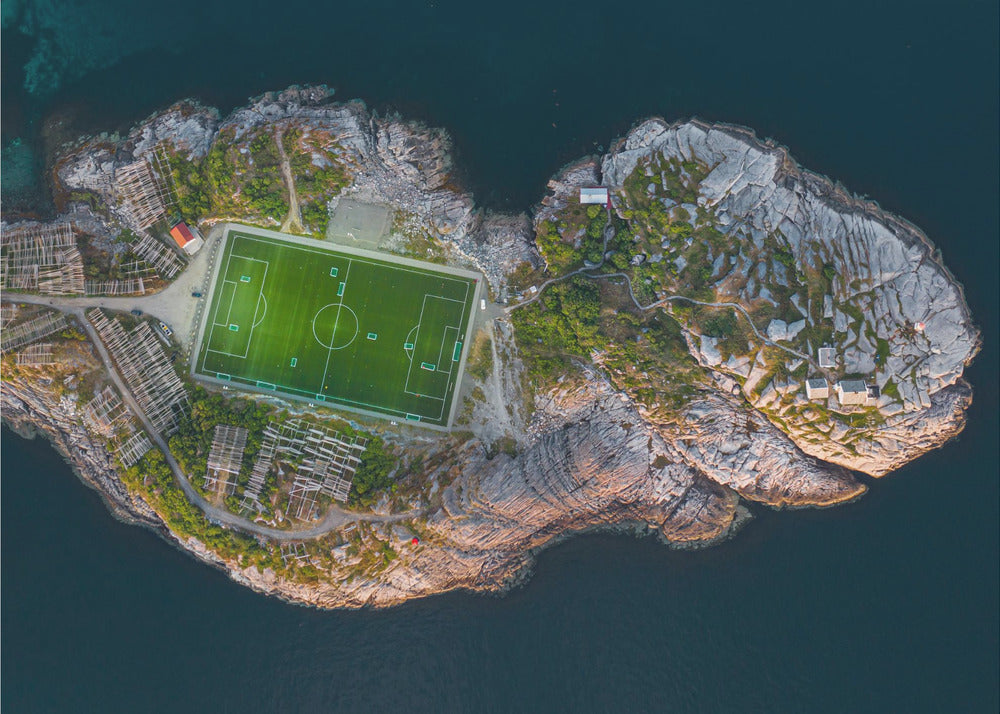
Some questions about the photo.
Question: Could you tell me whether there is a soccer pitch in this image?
Yes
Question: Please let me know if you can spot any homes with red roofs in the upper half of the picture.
Yes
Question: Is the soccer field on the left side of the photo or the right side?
left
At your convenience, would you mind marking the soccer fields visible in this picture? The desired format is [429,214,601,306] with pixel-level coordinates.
[190,224,482,432]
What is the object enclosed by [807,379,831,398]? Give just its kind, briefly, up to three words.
house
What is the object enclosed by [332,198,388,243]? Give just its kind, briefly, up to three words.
sports court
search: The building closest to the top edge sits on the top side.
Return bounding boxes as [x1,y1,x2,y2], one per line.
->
[580,189,607,204]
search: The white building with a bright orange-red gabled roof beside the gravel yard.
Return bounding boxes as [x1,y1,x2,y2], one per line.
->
[171,223,197,249]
